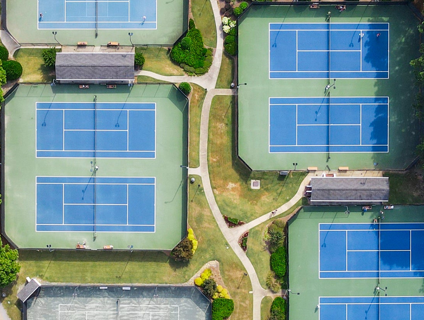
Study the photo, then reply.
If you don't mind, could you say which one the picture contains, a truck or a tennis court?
tennis court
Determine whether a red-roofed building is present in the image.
No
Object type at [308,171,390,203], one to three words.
building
